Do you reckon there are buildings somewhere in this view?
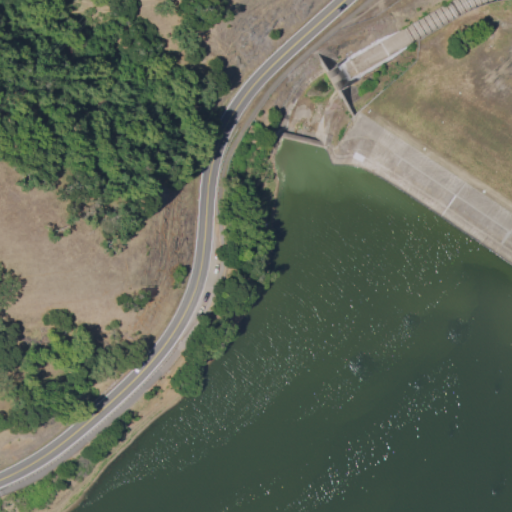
No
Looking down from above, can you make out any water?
Yes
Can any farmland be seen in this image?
No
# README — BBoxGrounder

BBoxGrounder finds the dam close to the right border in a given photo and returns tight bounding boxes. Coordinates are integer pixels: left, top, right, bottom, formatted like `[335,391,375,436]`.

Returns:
[330,113,512,266]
